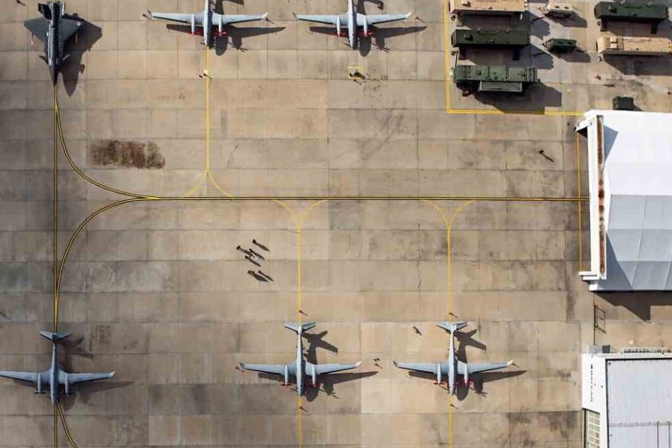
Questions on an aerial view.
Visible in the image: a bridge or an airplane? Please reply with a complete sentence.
It is an airplane that can be seen here.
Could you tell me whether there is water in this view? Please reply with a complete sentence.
No, the scene doesn't show any water.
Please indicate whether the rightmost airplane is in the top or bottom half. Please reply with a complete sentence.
It is in the bottom half that the rightmost airplane appears.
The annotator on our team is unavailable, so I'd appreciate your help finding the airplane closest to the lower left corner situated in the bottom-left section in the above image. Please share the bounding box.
[0,330,113,402]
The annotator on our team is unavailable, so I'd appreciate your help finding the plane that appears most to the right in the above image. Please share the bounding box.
[393,323,512,395]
